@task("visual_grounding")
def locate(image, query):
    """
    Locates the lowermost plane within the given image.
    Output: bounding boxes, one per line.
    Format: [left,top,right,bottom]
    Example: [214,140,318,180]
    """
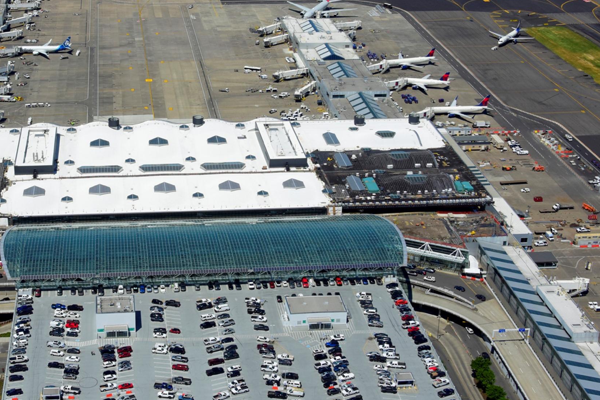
[420,92,497,118]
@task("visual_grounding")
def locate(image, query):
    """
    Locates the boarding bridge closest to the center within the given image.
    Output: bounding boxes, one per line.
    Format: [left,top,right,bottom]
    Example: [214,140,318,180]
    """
[292,81,314,101]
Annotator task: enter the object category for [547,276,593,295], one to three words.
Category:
jet bridge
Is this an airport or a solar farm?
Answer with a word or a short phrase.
airport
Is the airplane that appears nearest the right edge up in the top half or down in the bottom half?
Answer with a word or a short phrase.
top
